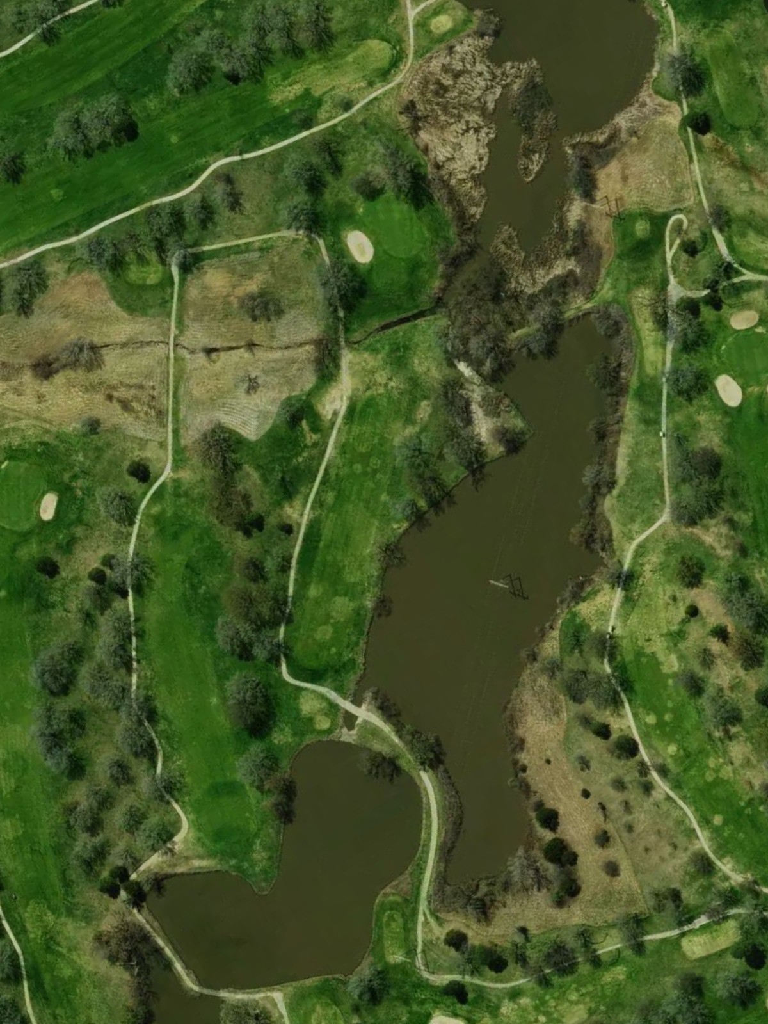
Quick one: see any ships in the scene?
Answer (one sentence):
No, I find no ship anywhere in the image.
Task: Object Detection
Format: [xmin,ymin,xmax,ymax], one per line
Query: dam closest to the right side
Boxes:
[358,717,456,915]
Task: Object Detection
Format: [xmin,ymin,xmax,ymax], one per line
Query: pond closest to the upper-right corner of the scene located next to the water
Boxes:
[438,0,671,308]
